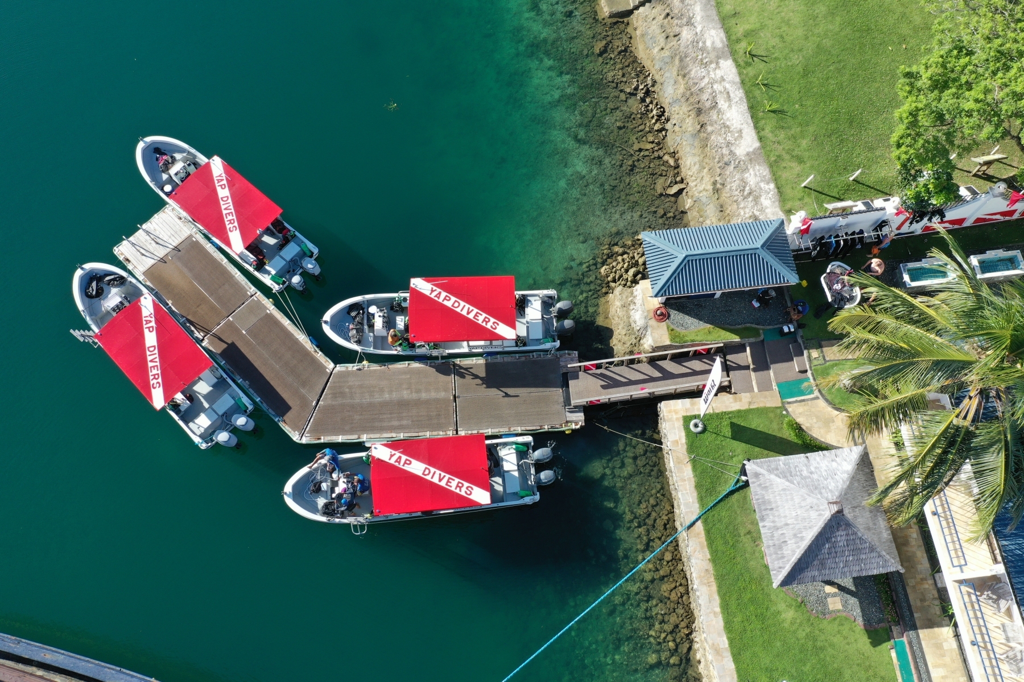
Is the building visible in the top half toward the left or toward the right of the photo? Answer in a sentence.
The building visible in the top half is on the right side of the image.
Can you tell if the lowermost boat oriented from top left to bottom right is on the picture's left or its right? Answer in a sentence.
The lowermost boat oriented from top left to bottom right is on the left side of the image.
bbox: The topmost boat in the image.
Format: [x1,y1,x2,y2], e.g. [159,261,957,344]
[134,135,330,304]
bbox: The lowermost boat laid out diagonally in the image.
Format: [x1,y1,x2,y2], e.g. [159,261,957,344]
[70,264,268,462]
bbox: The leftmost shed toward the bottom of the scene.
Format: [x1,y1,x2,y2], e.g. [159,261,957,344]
[744,443,903,590]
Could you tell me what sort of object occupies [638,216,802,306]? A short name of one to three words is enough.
building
